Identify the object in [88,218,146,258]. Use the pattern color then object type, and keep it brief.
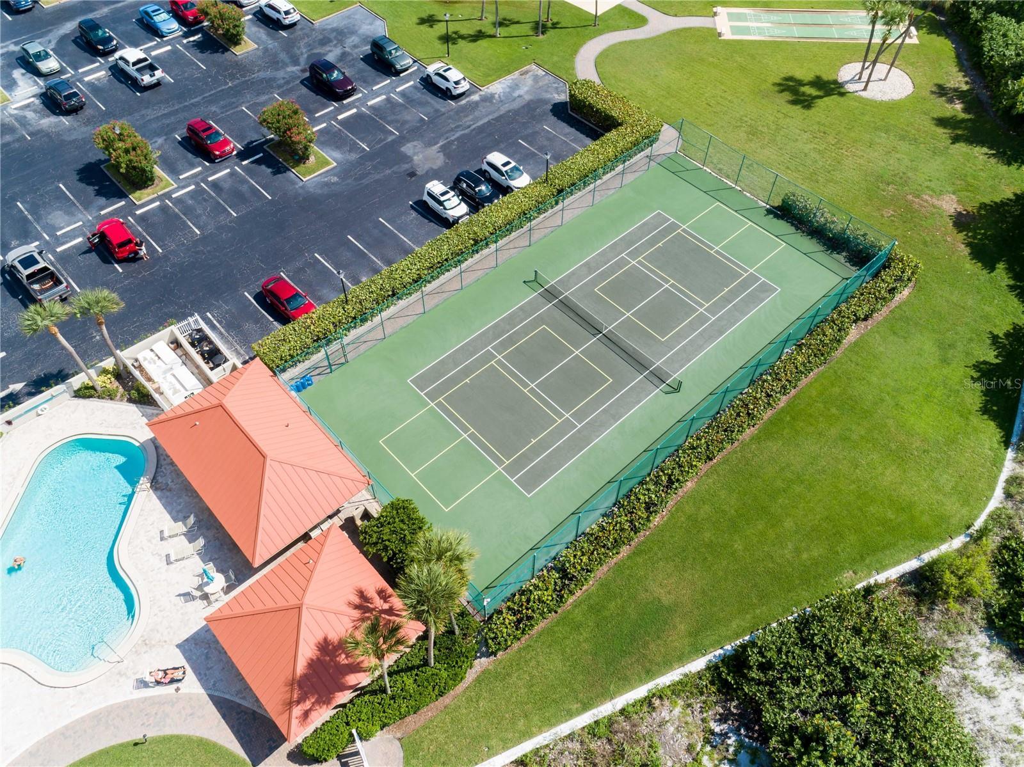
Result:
red car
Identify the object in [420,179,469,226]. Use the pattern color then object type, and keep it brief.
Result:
white car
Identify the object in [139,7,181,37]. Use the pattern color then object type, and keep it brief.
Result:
blue car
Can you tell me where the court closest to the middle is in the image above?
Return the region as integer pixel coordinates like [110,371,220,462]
[294,151,866,622]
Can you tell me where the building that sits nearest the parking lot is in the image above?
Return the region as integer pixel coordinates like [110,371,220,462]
[146,356,371,571]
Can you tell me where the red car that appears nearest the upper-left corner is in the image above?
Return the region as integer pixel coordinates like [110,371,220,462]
[165,0,204,24]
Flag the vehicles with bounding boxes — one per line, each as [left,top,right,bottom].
[139,7,181,37]
[307,59,352,99]
[259,275,314,325]
[21,43,60,76]
[420,179,469,226]
[420,65,468,98]
[109,48,163,88]
[88,218,146,258]
[448,167,503,212]
[78,20,119,55]
[481,150,533,193]
[3,244,70,300]
[255,0,298,28]
[366,36,410,74]
[187,119,235,163]
[42,79,85,114]
[165,0,204,24]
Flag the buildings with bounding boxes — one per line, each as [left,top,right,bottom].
[203,522,419,745]
[146,356,371,571]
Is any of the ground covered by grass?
Yes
